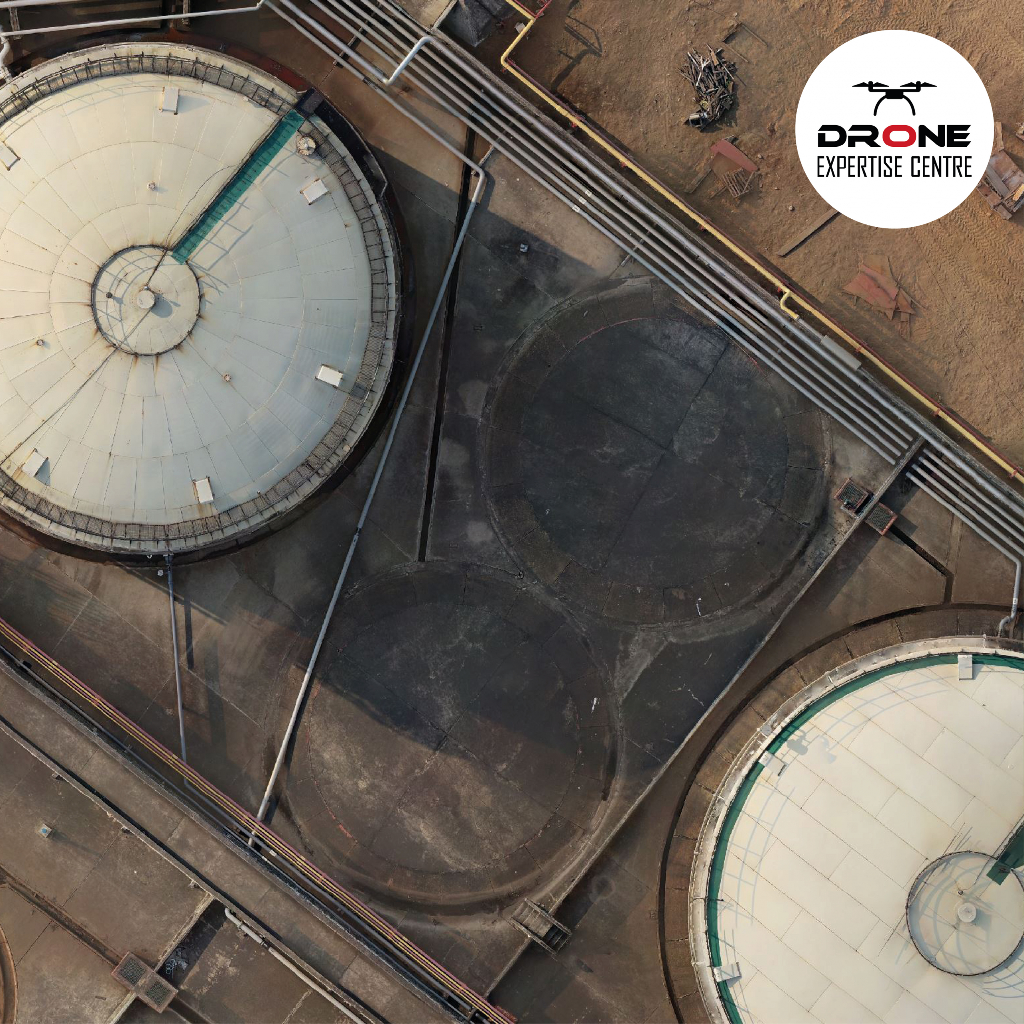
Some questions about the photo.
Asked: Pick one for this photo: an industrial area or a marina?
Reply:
industrial area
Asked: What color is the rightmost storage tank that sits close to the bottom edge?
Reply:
white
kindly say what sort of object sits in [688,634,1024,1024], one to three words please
storage tank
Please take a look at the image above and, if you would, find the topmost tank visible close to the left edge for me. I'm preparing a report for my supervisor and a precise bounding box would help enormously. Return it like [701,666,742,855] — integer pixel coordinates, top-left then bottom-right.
[0,42,400,559]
